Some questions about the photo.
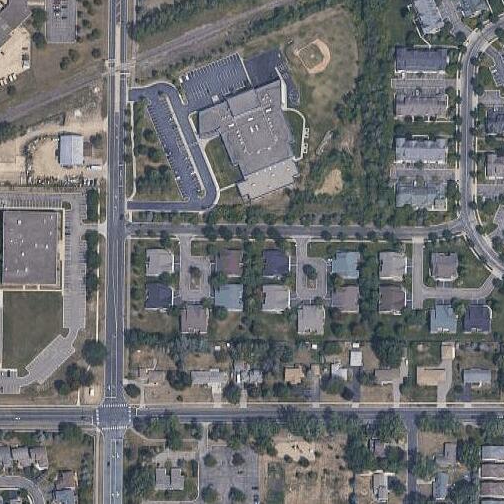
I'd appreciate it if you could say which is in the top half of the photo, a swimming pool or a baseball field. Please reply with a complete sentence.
Looking in the top half of the photo, you will find a baseball field.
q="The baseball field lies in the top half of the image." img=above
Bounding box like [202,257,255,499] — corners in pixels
[288,37,330,73]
